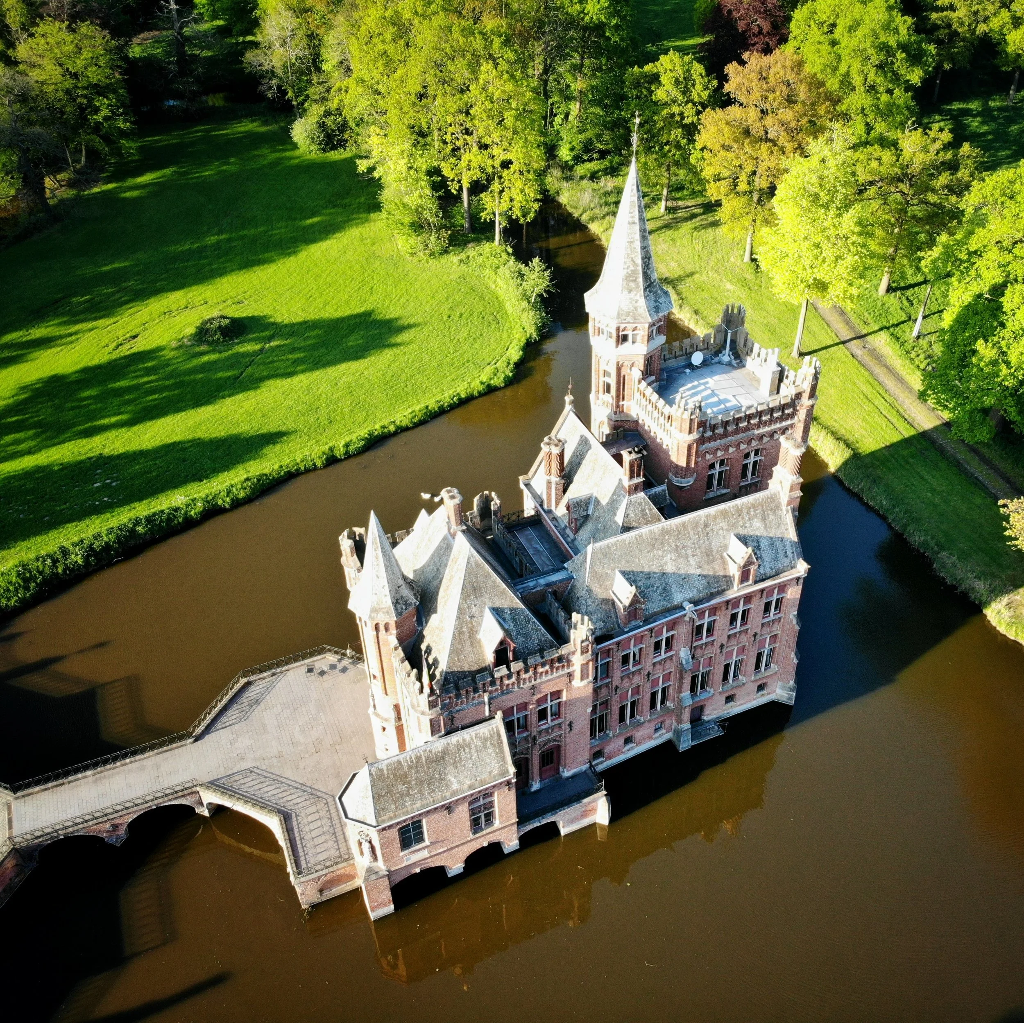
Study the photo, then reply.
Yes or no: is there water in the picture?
Yes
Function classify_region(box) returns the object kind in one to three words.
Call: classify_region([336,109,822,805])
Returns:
building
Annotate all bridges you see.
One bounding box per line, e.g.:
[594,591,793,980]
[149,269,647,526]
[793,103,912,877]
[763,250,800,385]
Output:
[0,651,414,911]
